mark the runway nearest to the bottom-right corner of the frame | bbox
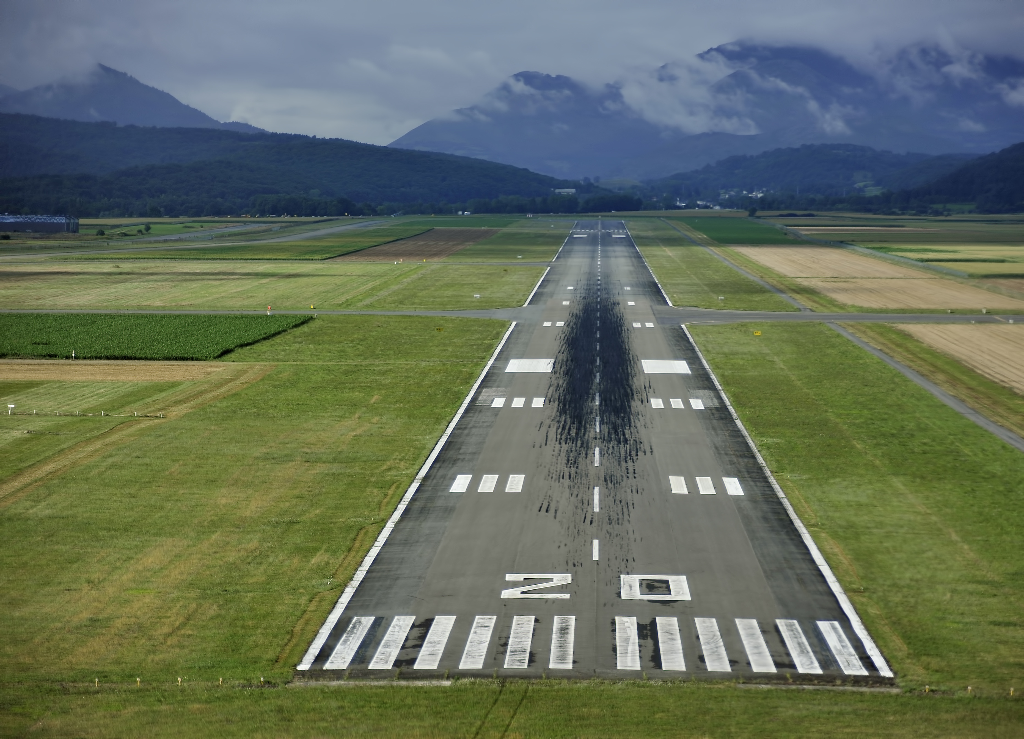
[285,220,905,691]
